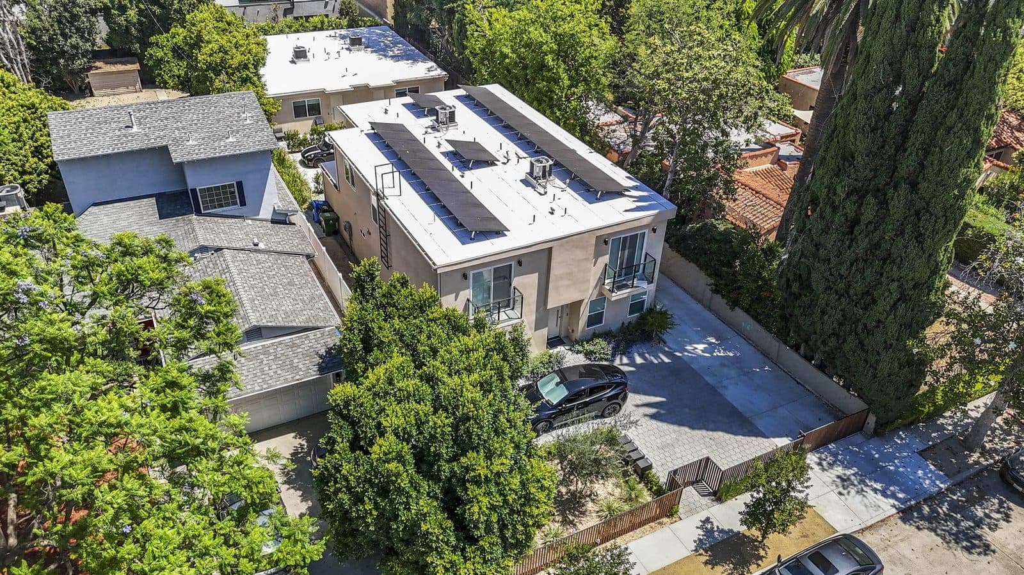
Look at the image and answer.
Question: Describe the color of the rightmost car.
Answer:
black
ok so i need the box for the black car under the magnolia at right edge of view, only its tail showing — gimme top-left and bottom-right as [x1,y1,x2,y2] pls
[987,443,1024,504]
